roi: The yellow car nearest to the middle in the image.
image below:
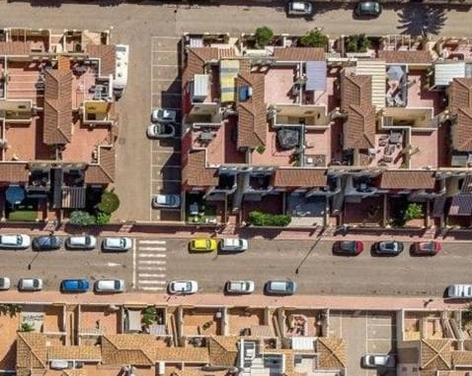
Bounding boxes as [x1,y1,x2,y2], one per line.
[190,238,215,252]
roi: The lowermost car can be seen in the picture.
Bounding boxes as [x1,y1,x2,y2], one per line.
[363,354,393,368]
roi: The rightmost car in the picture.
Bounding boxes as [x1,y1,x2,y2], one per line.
[446,284,472,298]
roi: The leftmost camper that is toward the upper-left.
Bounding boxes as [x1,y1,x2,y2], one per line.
[115,43,135,97]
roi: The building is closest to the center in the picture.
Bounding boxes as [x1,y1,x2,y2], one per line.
[180,102,303,194]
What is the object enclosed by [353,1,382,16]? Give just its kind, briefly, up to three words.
car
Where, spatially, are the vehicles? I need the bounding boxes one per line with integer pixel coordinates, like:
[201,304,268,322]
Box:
[333,240,361,255]
[0,234,29,249]
[0,276,12,291]
[103,237,131,251]
[95,278,124,294]
[219,238,247,253]
[353,1,382,16]
[115,43,135,97]
[169,280,196,295]
[68,235,96,250]
[373,240,401,255]
[19,277,43,292]
[363,354,393,368]
[225,280,253,295]
[34,235,61,250]
[410,240,439,255]
[148,122,176,138]
[446,284,472,298]
[62,278,89,293]
[150,108,178,122]
[265,280,294,295]
[285,0,313,15]
[190,238,215,252]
